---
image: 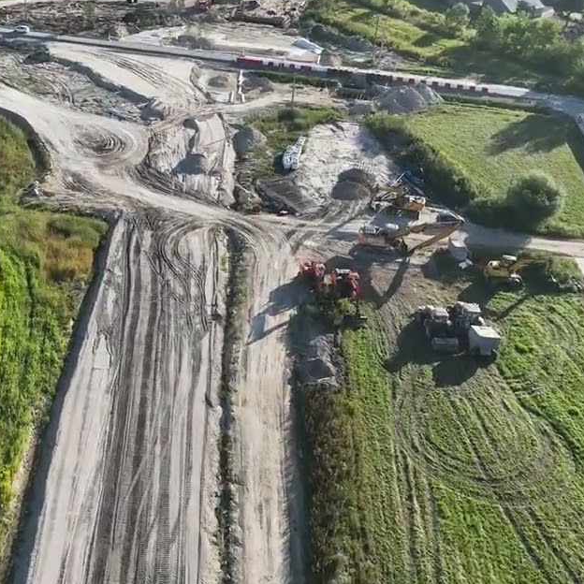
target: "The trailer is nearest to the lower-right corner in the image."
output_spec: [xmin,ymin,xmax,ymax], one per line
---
[473,324,507,352]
